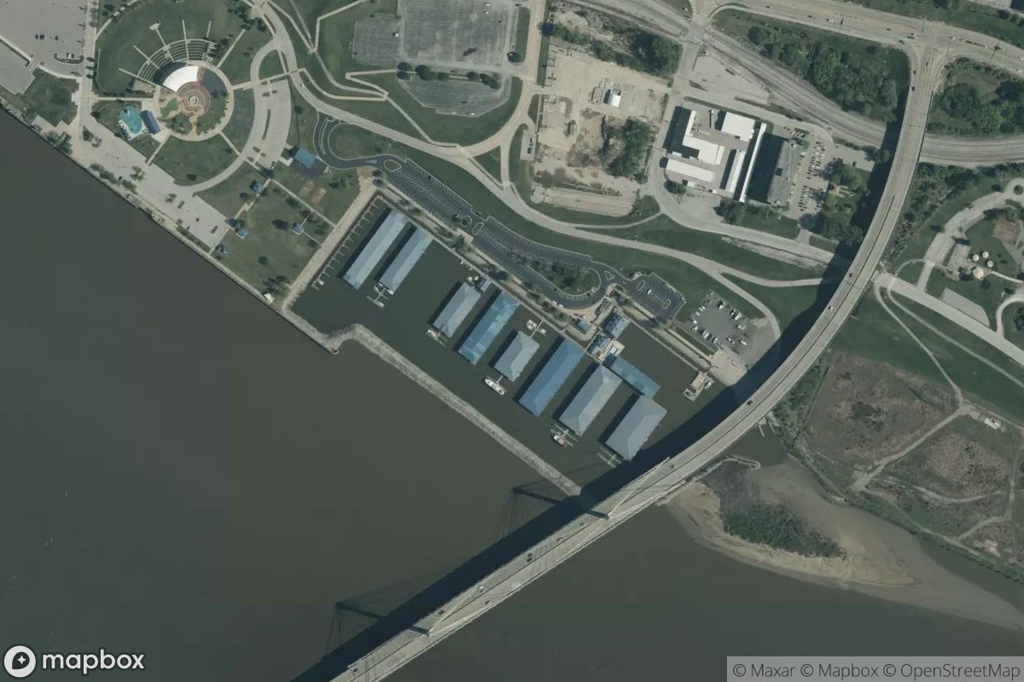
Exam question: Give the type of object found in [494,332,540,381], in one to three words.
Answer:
building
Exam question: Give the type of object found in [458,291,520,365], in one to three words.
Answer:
building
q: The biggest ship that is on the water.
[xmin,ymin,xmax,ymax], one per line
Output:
[684,371,714,402]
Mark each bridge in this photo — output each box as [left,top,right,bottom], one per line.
[331,45,952,682]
